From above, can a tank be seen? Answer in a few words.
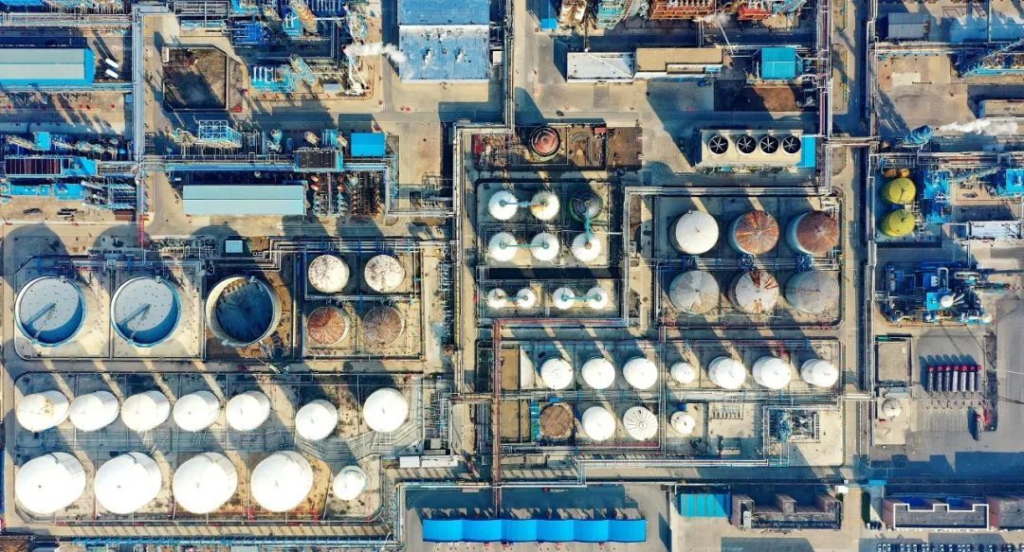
Yes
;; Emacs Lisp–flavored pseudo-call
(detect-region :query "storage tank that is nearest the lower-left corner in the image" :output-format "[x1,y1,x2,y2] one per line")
[13,452,87,515]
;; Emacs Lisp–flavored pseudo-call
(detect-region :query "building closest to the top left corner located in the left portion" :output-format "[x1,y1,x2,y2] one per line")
[0,46,93,85]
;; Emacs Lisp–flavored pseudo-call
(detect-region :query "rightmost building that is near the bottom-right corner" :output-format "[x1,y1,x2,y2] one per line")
[990,496,1024,528]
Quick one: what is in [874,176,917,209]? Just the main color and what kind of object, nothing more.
yellow storage tank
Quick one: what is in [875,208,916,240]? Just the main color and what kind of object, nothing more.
yellow storage tank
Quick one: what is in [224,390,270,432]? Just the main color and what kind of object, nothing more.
white storage tank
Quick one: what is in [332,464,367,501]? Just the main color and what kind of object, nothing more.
white storage tank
